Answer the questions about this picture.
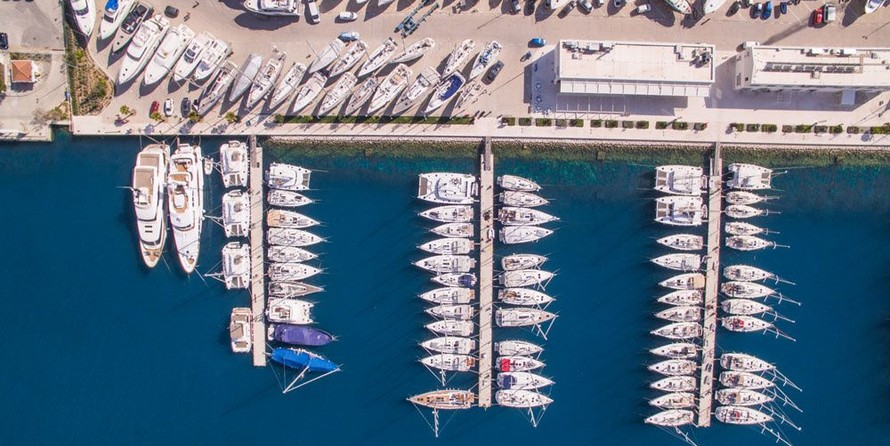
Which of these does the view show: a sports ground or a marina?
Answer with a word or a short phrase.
marina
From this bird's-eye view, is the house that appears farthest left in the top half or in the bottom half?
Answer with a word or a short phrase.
top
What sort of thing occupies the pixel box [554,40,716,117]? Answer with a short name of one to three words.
building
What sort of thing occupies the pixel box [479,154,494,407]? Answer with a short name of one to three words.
pier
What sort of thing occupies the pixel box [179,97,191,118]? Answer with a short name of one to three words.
vehicle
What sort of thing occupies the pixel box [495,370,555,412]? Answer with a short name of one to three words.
boat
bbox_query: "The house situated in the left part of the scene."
[11,61,43,83]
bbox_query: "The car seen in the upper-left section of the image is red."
[148,99,161,117]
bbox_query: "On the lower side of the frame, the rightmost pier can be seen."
[698,158,721,427]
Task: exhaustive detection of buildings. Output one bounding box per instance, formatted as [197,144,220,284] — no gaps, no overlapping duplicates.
[734,46,890,106]
[11,61,43,83]
[554,40,716,117]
